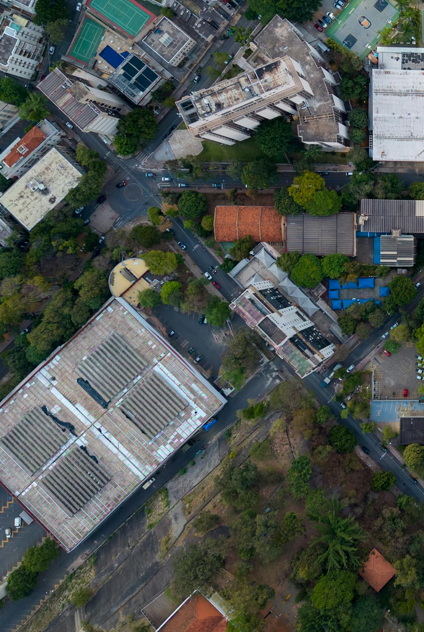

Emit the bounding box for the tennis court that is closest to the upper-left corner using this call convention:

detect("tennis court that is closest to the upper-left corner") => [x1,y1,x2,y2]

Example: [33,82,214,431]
[69,18,104,65]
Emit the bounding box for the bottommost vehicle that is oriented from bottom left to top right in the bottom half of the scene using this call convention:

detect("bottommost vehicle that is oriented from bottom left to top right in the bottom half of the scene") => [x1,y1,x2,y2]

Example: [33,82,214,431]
[141,474,158,492]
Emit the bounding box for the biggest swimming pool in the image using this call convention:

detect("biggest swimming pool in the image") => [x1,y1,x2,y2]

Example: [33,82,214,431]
[97,44,125,70]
